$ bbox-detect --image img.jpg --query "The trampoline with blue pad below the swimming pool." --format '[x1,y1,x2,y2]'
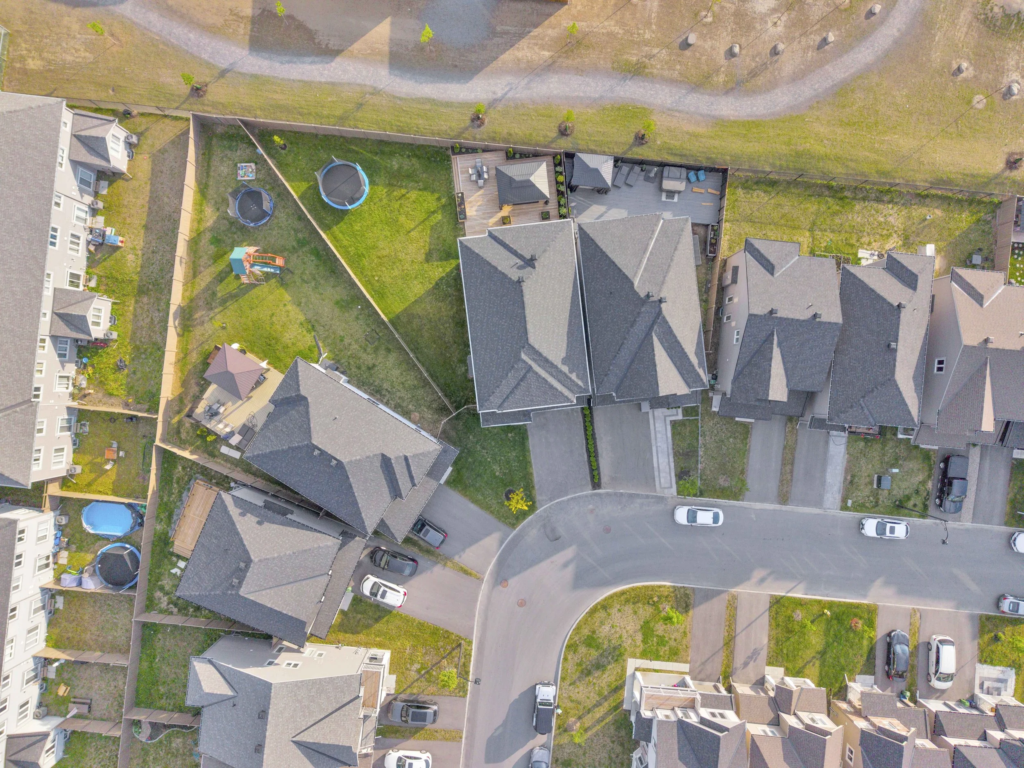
[86,540,141,596]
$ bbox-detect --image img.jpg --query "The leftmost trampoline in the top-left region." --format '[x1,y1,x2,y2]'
[229,183,277,227]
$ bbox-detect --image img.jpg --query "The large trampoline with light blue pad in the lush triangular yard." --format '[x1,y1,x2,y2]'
[314,155,371,212]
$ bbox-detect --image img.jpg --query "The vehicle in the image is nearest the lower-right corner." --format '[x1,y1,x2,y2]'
[927,635,957,688]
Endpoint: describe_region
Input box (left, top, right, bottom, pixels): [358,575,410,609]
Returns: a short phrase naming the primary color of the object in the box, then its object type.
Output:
white car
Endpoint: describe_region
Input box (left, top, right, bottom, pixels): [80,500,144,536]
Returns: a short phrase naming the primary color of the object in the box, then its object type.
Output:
blue swimming pool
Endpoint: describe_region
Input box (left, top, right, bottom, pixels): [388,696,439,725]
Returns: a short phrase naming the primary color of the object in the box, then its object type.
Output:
gray car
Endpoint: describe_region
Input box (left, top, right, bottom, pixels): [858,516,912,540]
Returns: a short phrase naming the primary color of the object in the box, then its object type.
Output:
white car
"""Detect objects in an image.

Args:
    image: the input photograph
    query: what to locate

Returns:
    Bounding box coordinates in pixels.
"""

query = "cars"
[388,696,439,725]
[358,575,410,609]
[858,516,912,540]
[995,592,1024,615]
[1007,531,1024,552]
[368,549,421,581]
[384,749,432,768]
[885,629,913,682]
[409,514,450,552]
[927,635,957,688]
[532,682,557,737]
[673,505,724,528]
[528,745,550,768]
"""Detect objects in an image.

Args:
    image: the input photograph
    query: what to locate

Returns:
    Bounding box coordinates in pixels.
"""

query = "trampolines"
[314,155,371,212]
[86,540,141,596]
[229,183,277,227]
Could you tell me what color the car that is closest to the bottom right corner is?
white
